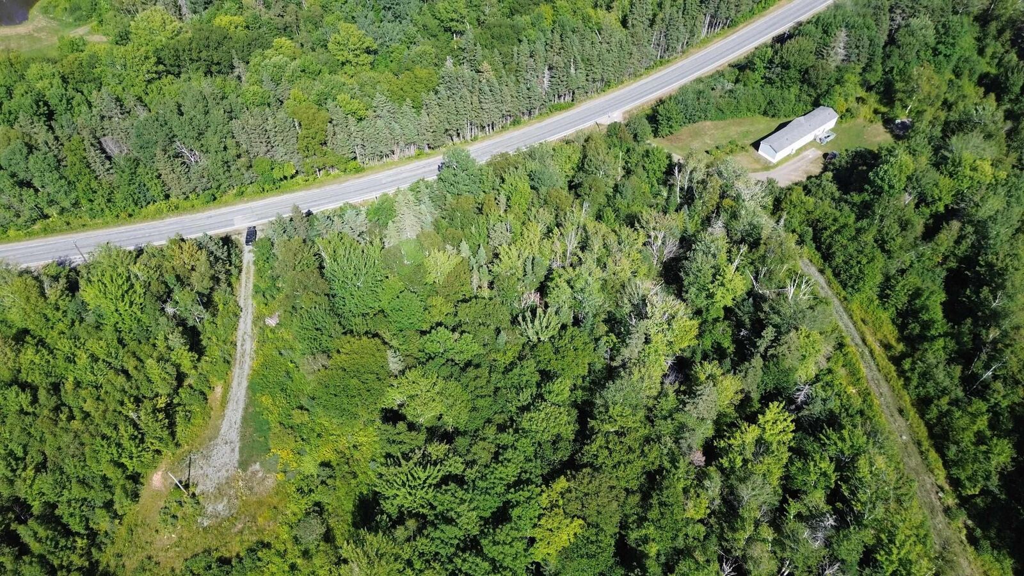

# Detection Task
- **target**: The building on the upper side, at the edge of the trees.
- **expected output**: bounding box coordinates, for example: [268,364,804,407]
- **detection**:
[760,111,840,163]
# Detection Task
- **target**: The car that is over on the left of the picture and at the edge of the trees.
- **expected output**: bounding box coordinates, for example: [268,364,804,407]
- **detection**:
[242,226,256,244]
